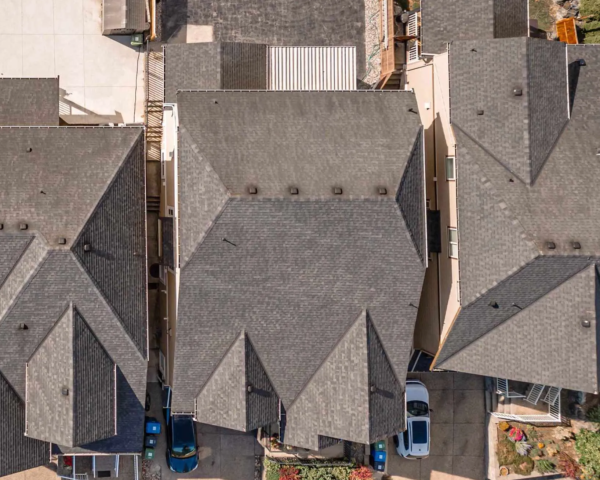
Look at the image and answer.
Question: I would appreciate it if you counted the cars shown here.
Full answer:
In total, 2 cars can be seen.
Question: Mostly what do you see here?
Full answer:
Most of the picture is covered by buildings.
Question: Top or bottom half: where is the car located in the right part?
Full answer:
The car located in the right part sits in the bottom half of the picture.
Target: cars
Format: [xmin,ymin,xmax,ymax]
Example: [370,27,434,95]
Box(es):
[163,384,203,471]
[392,379,435,461]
